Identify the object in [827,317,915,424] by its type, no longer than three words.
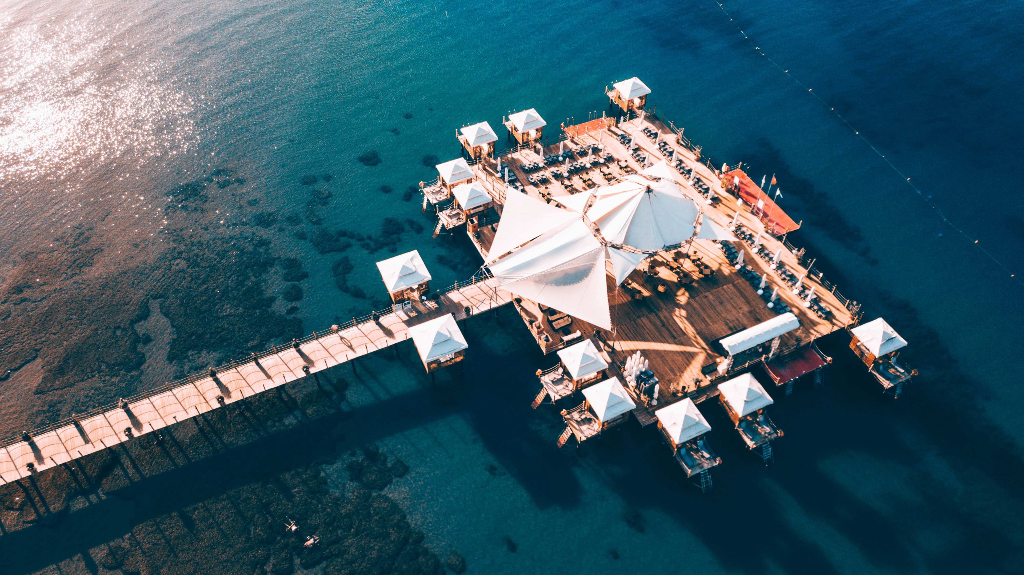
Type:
tent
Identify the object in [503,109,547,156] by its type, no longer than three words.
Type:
tent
